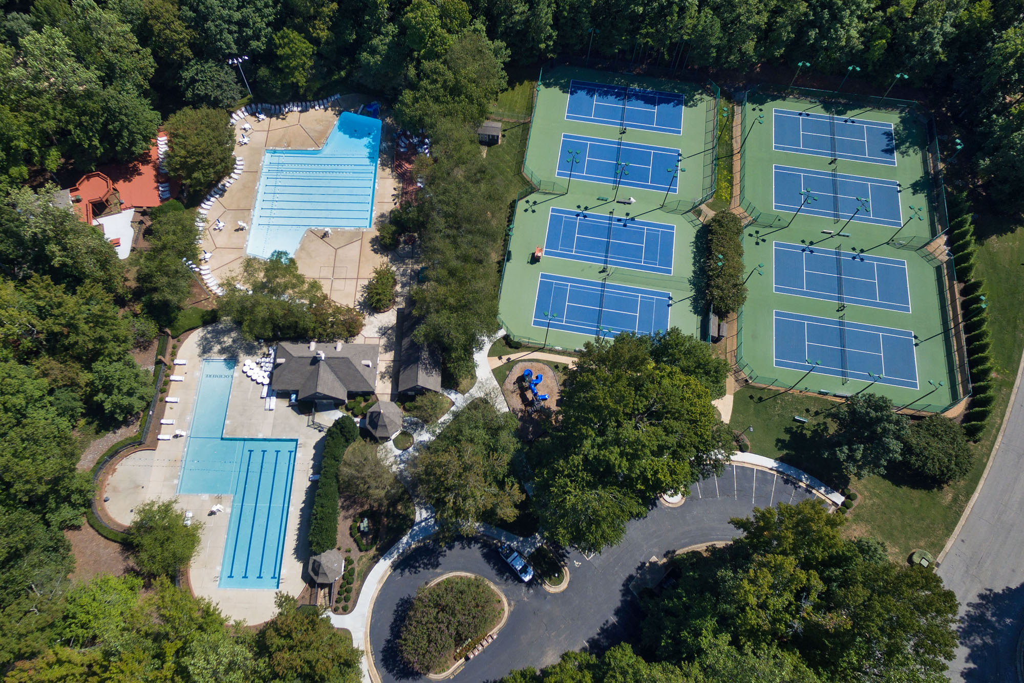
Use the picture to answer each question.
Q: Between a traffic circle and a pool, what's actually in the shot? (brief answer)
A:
pool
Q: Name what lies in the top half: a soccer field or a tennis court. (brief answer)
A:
tennis court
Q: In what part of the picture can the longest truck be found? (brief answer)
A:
bottom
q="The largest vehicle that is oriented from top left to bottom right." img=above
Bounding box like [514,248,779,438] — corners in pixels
[499,542,532,582]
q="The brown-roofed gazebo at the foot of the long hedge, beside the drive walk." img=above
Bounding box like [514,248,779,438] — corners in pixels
[307,547,347,587]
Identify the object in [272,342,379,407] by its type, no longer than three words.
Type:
building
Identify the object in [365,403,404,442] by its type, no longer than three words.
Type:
gazebo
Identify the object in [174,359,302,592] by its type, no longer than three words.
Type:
swimming pool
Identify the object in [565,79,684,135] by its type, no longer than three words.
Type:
tennis court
